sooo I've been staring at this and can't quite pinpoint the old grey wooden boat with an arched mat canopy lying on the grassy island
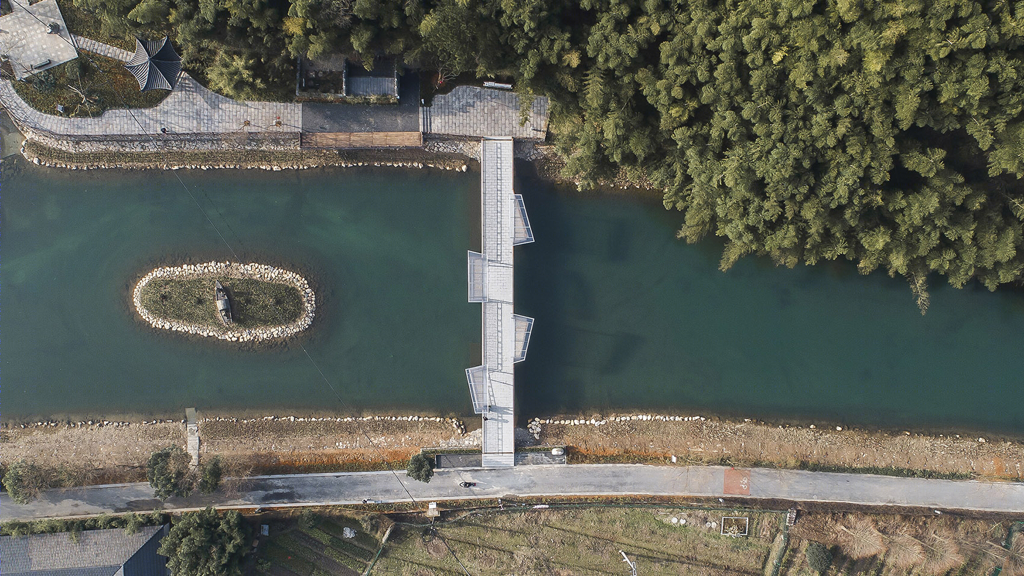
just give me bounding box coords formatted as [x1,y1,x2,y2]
[213,280,233,328]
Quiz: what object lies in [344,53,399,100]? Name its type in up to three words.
shed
